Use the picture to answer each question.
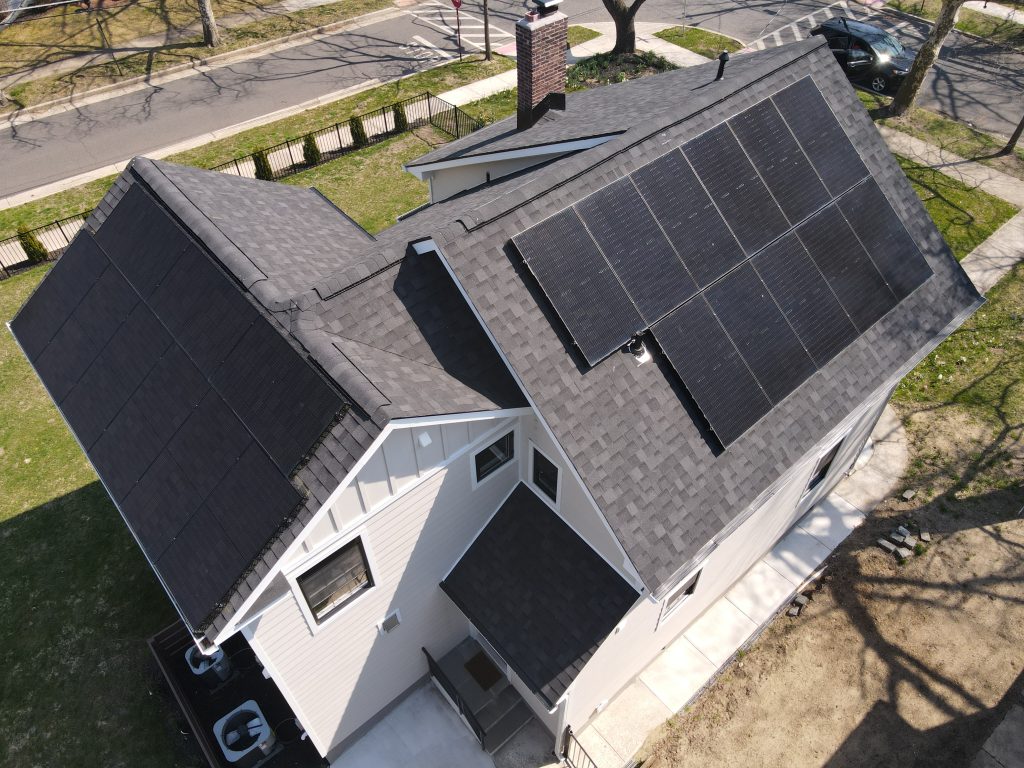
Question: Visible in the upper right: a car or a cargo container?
car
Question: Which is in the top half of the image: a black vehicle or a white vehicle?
black vehicle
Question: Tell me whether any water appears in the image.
No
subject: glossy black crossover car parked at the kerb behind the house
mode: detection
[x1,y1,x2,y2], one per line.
[816,16,920,96]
